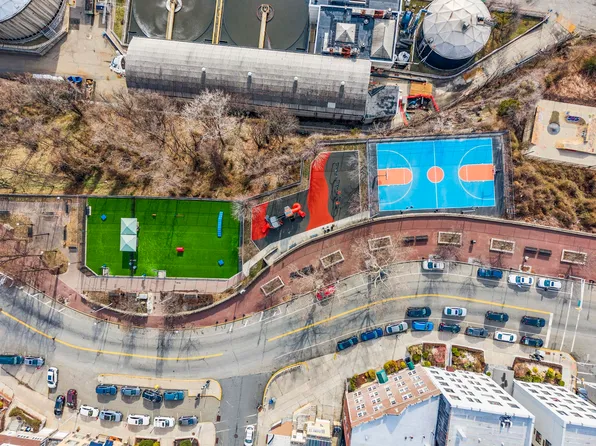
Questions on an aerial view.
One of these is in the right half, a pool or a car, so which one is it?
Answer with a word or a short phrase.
car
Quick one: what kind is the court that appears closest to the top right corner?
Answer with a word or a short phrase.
basketball court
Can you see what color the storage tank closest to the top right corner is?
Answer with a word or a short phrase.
white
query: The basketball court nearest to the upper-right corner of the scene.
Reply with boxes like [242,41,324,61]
[368,133,506,218]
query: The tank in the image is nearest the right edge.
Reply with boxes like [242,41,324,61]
[408,0,499,72]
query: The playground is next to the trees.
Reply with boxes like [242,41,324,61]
[251,150,360,252]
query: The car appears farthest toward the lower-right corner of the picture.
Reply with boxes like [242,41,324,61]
[573,383,591,400]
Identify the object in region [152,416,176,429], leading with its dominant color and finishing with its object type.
white vehicle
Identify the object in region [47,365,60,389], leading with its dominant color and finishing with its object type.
white vehicle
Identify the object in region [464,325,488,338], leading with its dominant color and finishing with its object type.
blue vehicle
